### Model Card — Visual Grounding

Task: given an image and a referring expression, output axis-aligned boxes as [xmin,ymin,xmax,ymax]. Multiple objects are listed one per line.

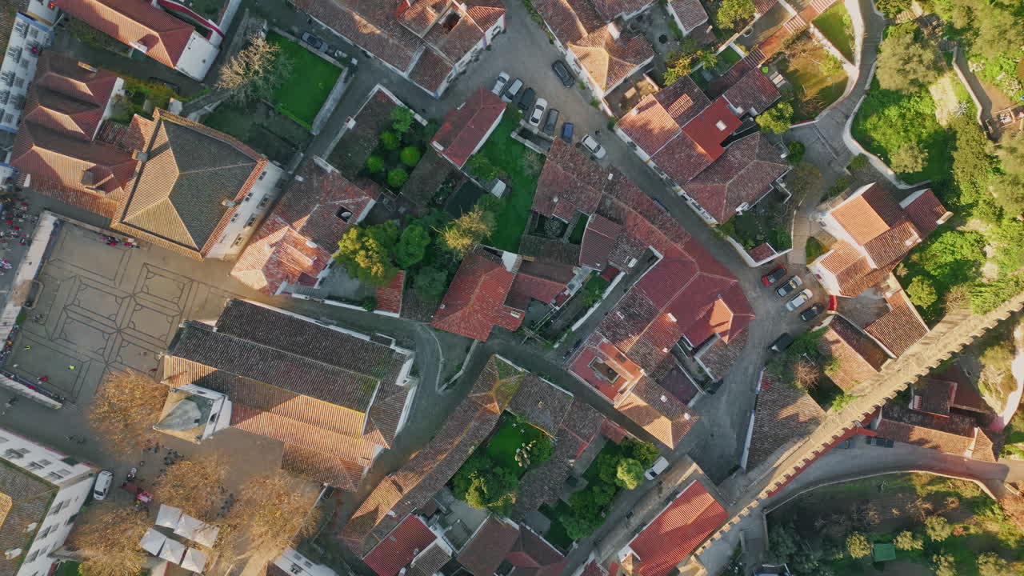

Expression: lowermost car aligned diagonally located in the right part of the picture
[643,454,671,481]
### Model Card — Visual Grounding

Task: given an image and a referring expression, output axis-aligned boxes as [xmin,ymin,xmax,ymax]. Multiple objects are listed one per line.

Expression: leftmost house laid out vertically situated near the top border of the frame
[0,10,51,132]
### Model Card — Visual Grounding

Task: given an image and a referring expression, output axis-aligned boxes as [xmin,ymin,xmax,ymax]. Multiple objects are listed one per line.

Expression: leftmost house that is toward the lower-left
[0,419,92,576]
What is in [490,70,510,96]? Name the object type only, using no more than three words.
car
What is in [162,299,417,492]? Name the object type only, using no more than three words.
church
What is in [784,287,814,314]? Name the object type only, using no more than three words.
car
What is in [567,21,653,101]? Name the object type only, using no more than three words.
house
